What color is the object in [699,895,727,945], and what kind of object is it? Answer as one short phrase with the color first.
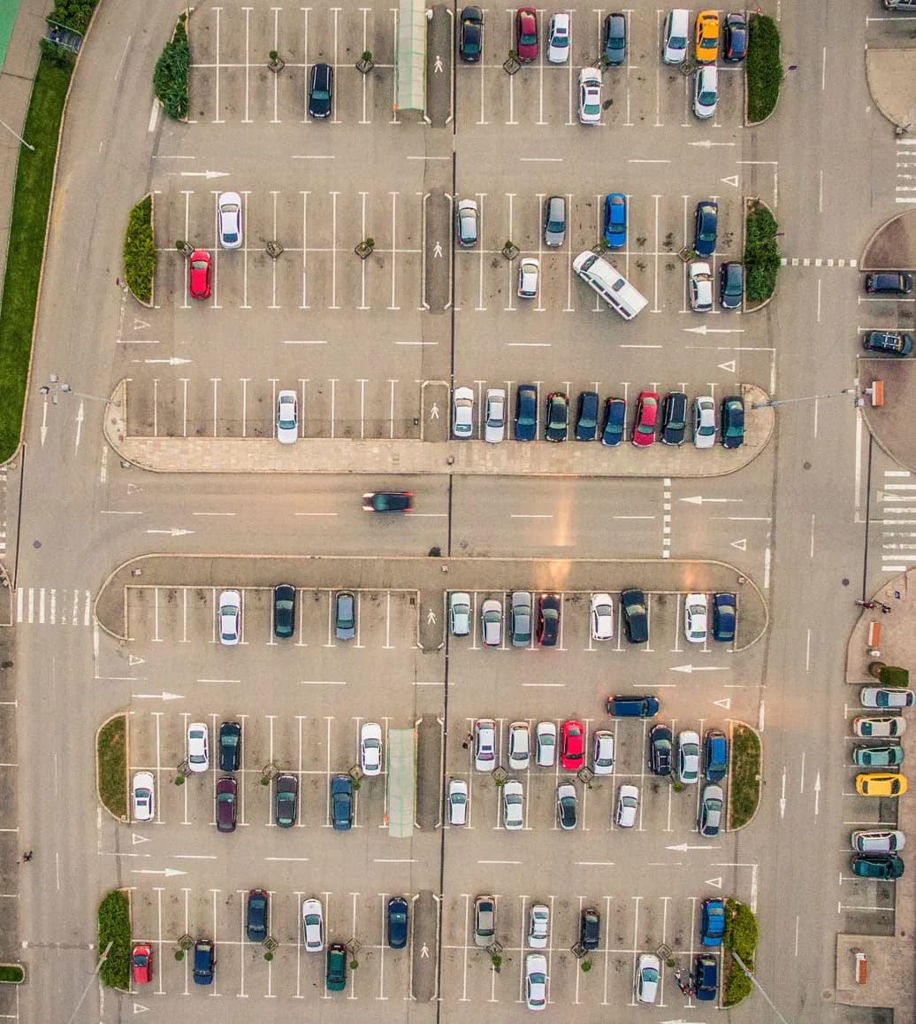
blue car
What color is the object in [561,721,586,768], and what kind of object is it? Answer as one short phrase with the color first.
red car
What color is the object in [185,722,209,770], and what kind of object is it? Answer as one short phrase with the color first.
white car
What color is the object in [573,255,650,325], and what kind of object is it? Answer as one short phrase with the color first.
white vehicle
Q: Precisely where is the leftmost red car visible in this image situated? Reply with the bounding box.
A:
[130,939,154,984]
